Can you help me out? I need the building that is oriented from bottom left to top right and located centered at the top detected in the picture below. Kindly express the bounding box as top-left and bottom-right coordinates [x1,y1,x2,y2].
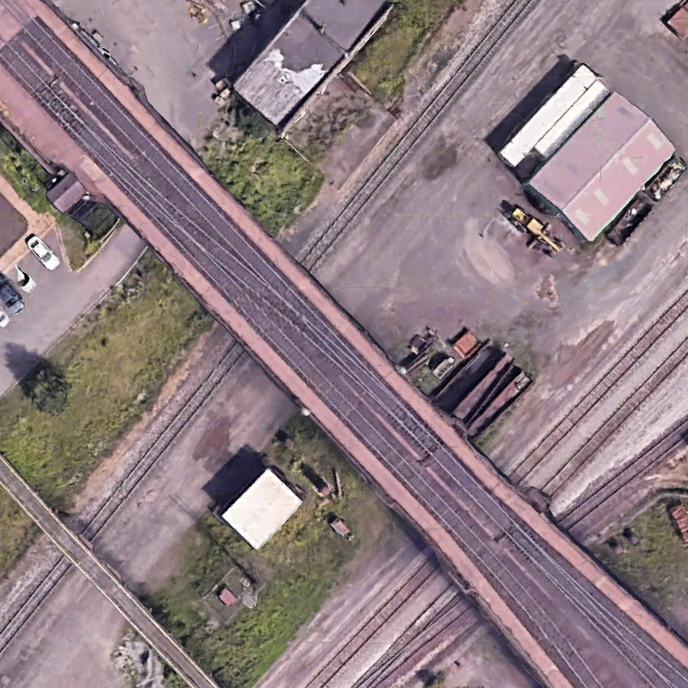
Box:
[234,0,394,141]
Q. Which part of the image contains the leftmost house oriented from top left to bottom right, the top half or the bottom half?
top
